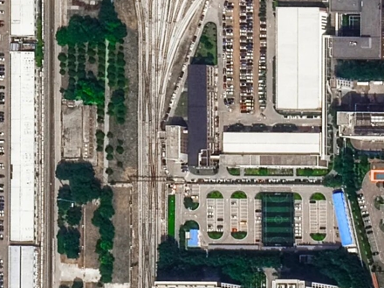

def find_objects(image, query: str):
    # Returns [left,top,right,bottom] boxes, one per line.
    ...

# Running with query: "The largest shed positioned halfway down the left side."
[9,51,39,242]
